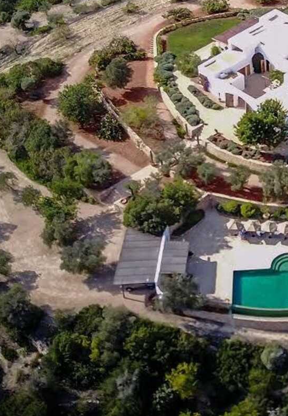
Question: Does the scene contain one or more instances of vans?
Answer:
No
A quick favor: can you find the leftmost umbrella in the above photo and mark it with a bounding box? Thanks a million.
[225,222,243,239]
